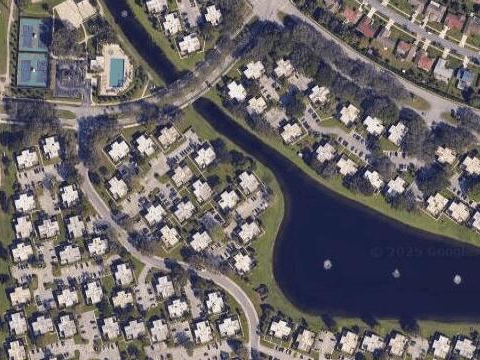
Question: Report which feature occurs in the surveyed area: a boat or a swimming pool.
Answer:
swimming pool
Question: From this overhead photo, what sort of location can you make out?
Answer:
residential area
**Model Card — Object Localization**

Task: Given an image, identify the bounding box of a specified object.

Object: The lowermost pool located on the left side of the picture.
[100,45,133,95]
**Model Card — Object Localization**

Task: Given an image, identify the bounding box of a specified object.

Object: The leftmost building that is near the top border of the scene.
[54,0,98,28]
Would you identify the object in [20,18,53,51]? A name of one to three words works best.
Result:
tennis court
